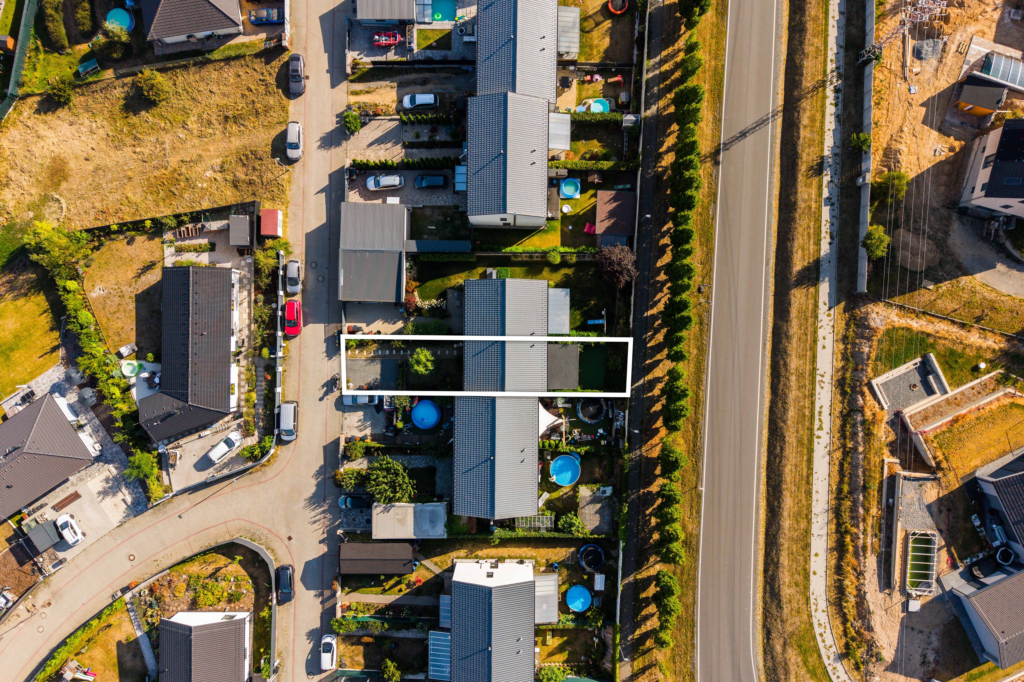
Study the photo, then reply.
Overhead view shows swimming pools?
Yes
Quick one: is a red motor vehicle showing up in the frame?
Yes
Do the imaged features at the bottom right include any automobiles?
No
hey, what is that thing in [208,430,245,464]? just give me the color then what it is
white car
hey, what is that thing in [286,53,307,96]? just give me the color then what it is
gray car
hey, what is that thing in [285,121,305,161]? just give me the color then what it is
white car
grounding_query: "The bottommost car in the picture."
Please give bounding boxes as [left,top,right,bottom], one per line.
[320,632,338,670]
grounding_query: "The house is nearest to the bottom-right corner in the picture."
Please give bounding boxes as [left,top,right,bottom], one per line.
[950,554,1024,670]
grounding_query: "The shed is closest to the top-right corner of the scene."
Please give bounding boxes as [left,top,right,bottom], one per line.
[949,75,1005,115]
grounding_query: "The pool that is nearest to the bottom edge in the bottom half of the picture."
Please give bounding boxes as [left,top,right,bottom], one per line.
[565,583,592,611]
